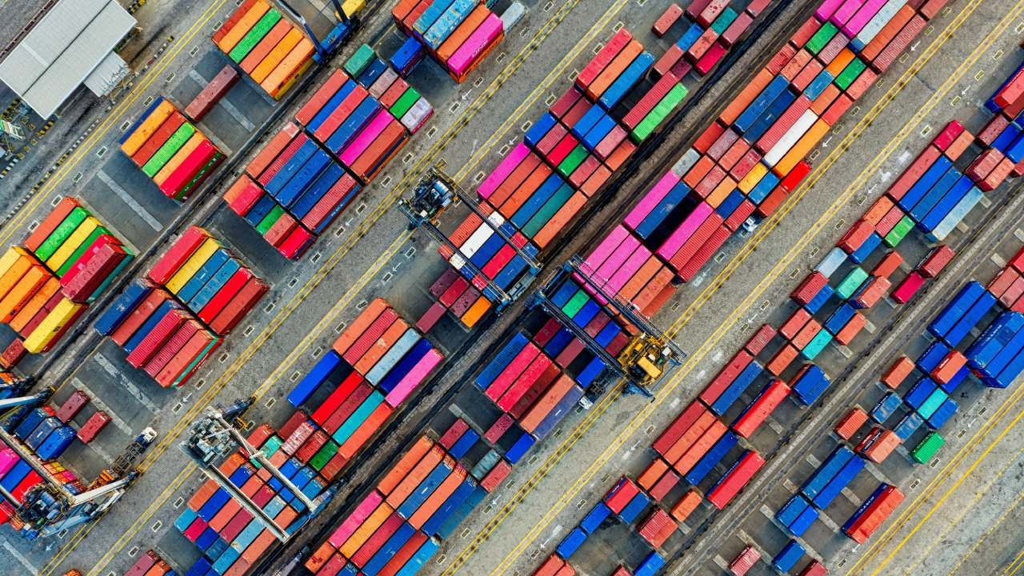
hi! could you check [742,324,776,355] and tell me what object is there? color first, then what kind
red shipping container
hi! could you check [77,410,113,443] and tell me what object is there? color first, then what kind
red shipping container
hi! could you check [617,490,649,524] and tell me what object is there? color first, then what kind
blue shipping container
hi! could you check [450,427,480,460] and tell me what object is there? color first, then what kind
blue shipping container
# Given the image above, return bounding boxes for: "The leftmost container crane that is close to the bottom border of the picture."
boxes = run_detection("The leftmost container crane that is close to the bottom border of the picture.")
[0,381,149,549]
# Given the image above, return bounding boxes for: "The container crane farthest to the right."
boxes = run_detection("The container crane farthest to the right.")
[525,251,695,405]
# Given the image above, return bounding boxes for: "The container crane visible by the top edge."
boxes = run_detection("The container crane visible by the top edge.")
[278,0,359,63]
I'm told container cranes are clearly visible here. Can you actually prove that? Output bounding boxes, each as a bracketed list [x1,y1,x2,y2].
[525,251,695,405]
[389,159,547,314]
[169,386,352,545]
[278,0,359,63]
[0,381,149,549]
